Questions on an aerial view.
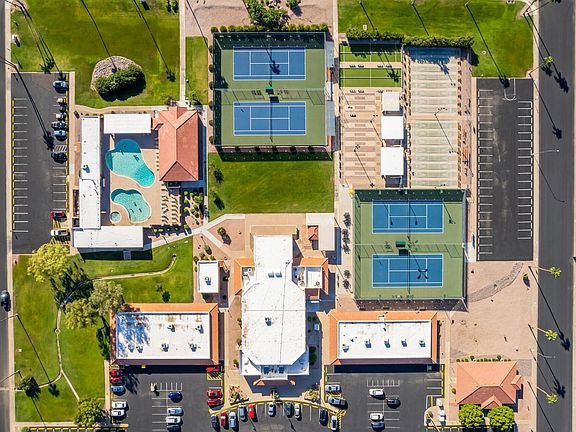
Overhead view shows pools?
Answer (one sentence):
Yes, the picture does show a pool.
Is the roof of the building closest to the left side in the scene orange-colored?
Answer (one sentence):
No, the roof of the building closest to the left side is actually white.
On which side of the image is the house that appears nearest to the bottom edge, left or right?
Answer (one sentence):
The house that appears nearest to the bottom edge is on the right side of the image.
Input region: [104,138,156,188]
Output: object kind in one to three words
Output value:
swimming pool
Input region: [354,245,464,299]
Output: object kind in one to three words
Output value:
tennis court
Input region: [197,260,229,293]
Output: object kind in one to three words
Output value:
building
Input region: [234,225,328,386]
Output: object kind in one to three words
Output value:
building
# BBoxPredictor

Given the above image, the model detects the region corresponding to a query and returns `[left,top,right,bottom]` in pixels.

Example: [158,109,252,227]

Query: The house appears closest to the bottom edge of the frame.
[456,361,521,406]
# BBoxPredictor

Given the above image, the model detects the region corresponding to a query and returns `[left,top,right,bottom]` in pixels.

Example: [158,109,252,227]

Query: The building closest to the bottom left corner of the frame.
[110,304,219,365]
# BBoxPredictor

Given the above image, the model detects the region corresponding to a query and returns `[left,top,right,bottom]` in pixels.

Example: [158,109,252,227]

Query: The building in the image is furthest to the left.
[74,116,146,248]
